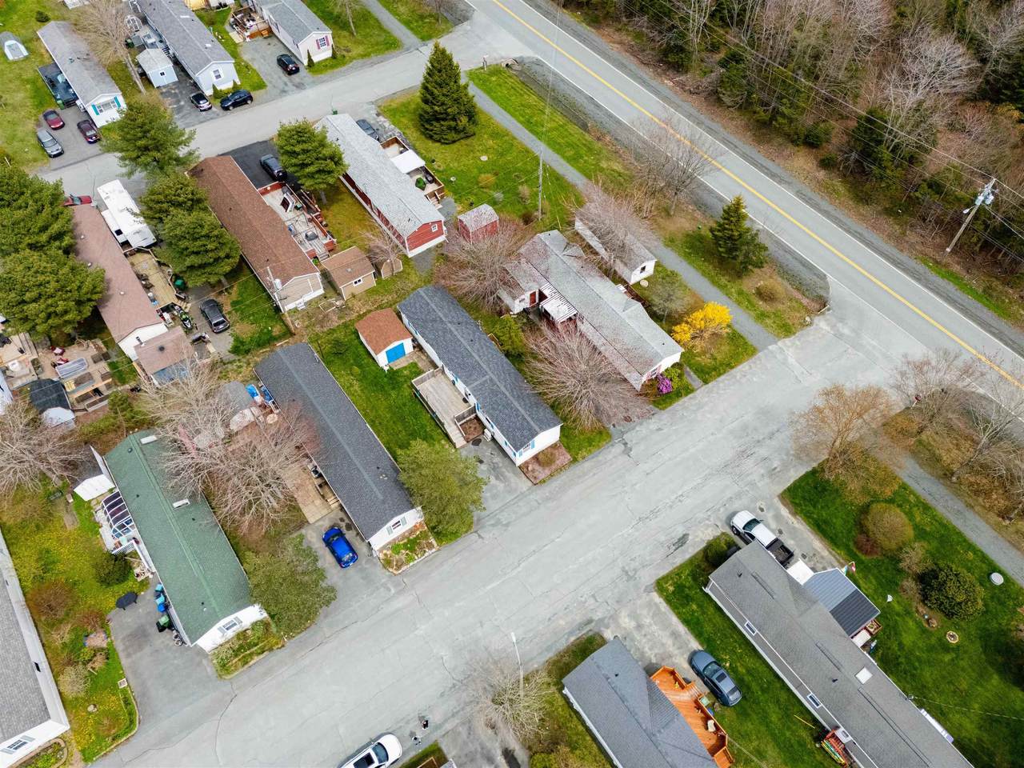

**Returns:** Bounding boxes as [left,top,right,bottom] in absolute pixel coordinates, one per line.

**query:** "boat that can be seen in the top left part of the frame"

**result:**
[3,34,21,56]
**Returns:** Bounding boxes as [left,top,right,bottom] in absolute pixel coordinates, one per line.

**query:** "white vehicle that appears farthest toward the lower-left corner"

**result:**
[335,731,401,768]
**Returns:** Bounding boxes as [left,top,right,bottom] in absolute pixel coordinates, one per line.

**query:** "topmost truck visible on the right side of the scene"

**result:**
[727,510,799,568]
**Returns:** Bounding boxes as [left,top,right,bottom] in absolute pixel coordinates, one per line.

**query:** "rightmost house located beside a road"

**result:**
[705,540,968,768]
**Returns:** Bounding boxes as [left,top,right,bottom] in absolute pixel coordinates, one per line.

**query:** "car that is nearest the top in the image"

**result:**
[276,55,300,74]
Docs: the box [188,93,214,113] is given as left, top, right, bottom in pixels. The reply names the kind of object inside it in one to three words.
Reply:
car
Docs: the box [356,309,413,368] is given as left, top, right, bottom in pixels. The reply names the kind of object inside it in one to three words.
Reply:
shed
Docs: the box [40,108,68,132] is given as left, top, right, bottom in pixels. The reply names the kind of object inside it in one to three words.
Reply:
car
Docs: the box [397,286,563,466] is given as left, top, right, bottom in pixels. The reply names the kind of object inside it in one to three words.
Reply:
house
